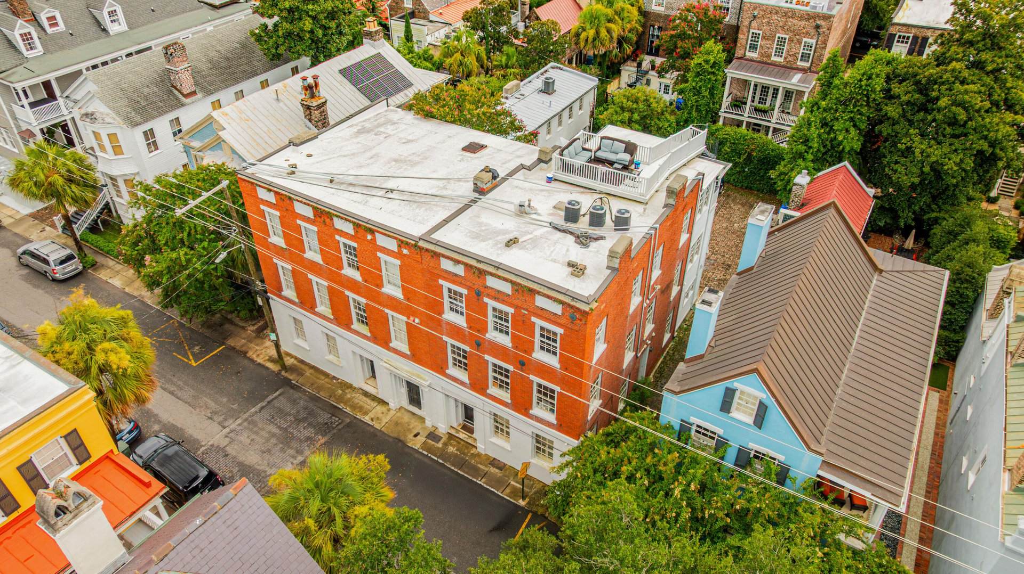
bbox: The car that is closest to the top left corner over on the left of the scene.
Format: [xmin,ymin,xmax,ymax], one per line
[13,235,83,282]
